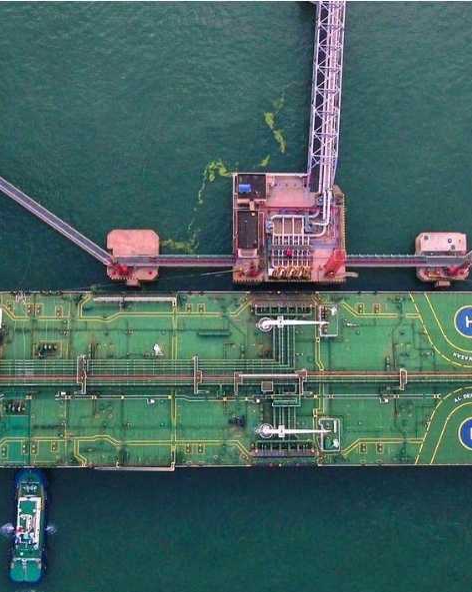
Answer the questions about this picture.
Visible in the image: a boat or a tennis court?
boat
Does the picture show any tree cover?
No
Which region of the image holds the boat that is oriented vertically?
bottom left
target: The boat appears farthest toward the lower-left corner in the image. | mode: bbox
[8,469,46,584]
